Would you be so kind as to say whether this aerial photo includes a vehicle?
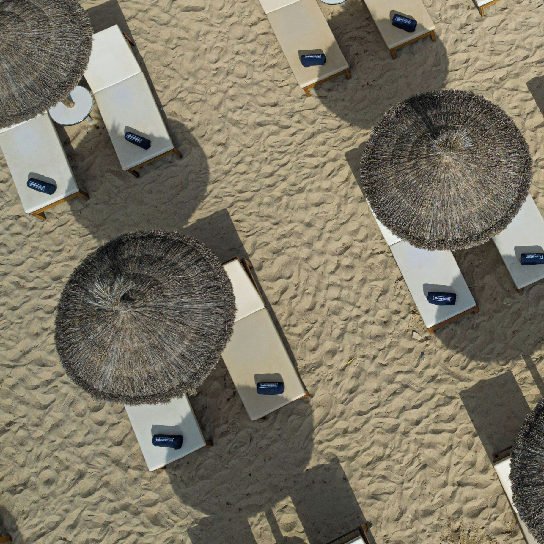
No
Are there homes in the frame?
No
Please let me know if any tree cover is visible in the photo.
No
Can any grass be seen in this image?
No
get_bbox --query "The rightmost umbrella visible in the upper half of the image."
[356,85,536,255]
